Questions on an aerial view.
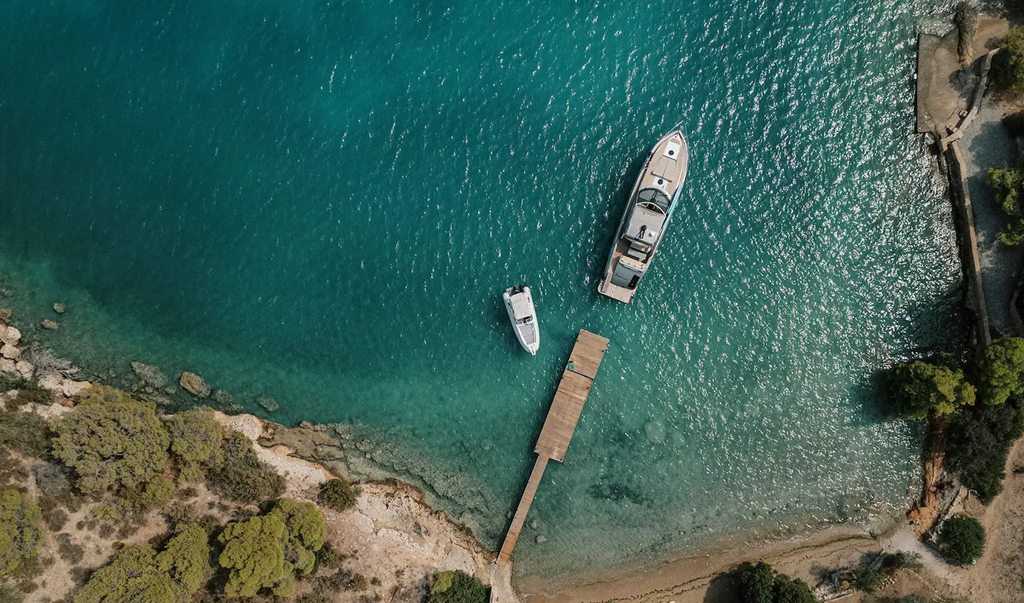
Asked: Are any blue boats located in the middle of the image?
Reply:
No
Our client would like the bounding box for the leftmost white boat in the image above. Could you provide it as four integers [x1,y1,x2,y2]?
[502,283,540,357]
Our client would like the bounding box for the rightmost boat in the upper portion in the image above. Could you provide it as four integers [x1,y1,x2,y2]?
[599,120,692,302]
